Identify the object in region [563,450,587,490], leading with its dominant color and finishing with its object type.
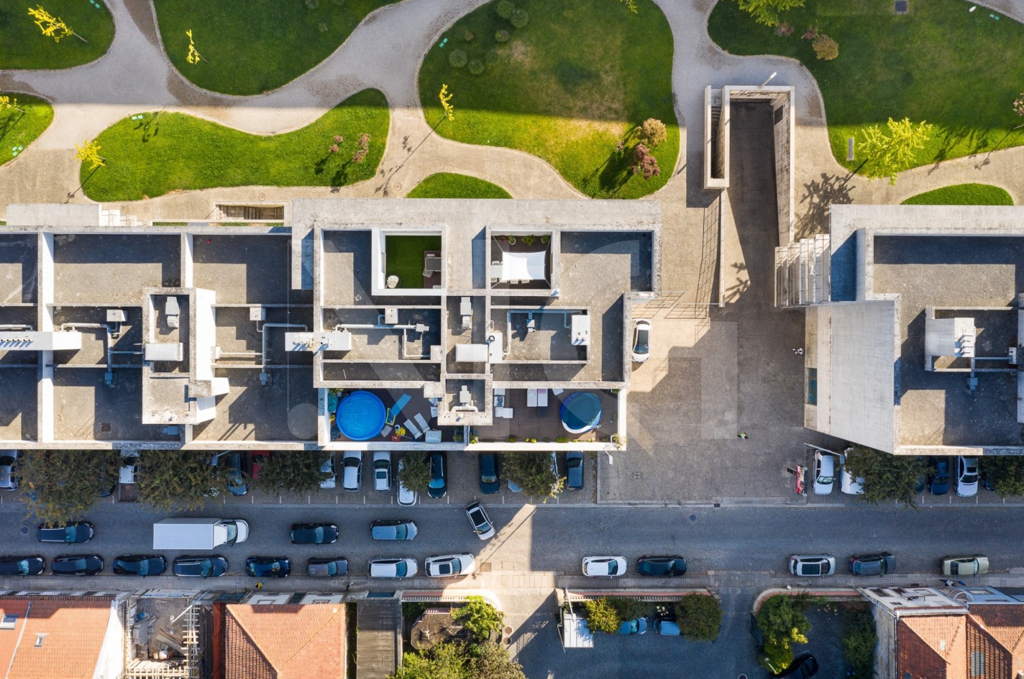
blue car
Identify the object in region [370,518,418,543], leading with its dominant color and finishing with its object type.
blue car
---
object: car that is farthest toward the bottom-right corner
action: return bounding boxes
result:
[940,554,990,579]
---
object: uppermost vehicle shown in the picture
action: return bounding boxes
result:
[632,318,654,363]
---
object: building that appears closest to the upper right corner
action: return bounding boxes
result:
[774,205,1024,455]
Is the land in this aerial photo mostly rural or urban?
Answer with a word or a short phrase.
urban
